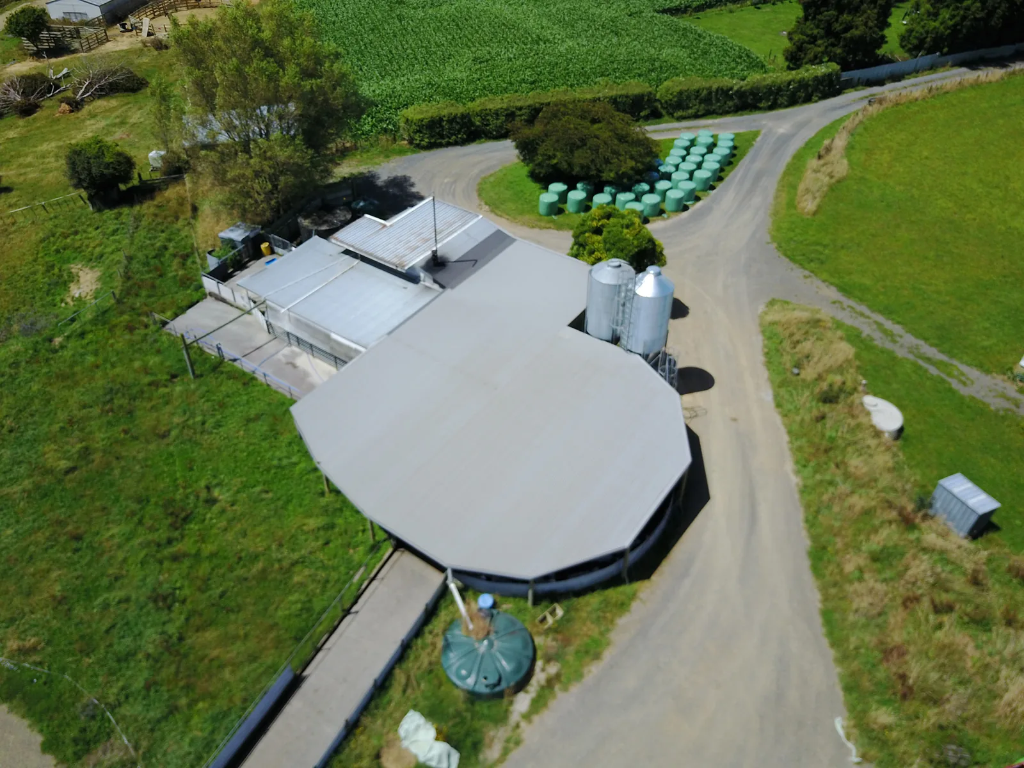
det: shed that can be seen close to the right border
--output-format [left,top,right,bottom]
[931,473,1001,535]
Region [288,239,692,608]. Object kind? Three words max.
shed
